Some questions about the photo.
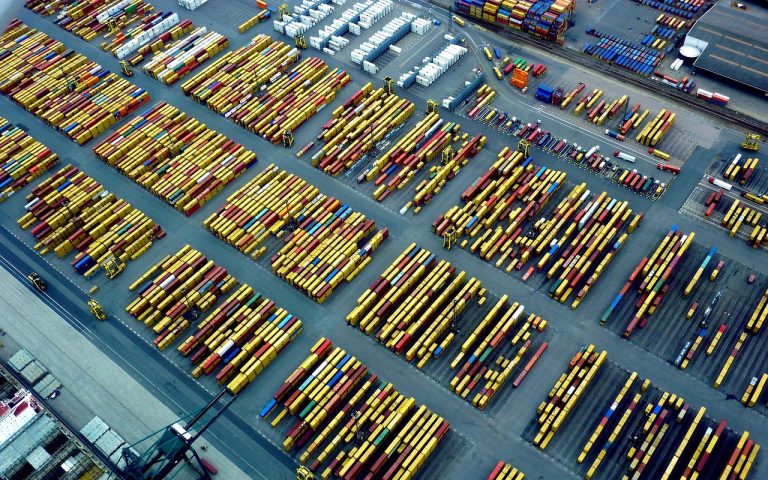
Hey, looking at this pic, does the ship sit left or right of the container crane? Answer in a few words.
on its left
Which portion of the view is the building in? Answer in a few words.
top right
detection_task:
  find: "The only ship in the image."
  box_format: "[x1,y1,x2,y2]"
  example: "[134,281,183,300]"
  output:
[0,368,117,480]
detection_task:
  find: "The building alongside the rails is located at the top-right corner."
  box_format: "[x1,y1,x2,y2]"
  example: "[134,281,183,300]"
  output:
[682,1,768,100]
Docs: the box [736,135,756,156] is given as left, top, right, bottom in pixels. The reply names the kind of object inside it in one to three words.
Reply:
work vehicle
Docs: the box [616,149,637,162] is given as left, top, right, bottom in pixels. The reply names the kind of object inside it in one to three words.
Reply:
vehicle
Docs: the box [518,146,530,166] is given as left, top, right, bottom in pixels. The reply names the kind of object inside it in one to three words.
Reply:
vehicle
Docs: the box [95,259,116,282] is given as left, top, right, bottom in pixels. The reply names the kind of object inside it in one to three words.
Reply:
work vehicle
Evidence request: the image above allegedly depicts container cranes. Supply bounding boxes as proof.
[106,383,245,480]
